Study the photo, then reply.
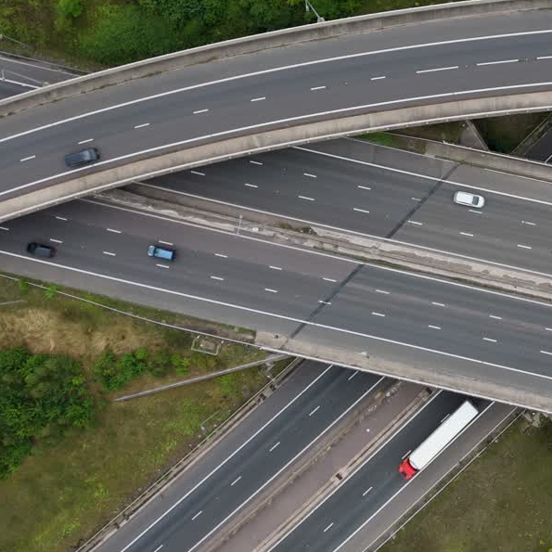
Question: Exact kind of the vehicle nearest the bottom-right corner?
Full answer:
Specifically, the vehicle nearest the bottom-right corner is a truck.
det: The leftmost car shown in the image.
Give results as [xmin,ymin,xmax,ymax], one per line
[28,242,56,257]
